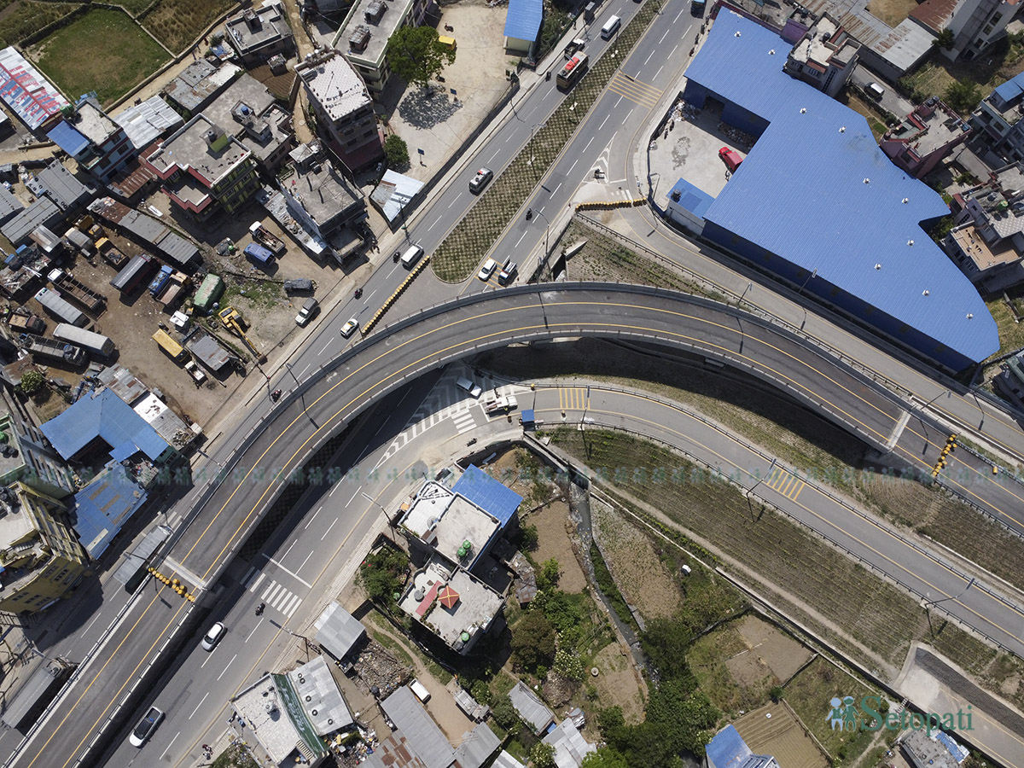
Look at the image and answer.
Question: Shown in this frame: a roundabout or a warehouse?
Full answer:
I can see a warehouse in this picture.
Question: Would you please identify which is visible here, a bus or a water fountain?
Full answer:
I can see a bus in this picture.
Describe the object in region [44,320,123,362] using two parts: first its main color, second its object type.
white truck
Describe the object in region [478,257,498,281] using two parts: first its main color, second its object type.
white car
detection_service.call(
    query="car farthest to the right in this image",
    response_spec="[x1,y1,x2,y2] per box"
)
[862,85,887,101]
